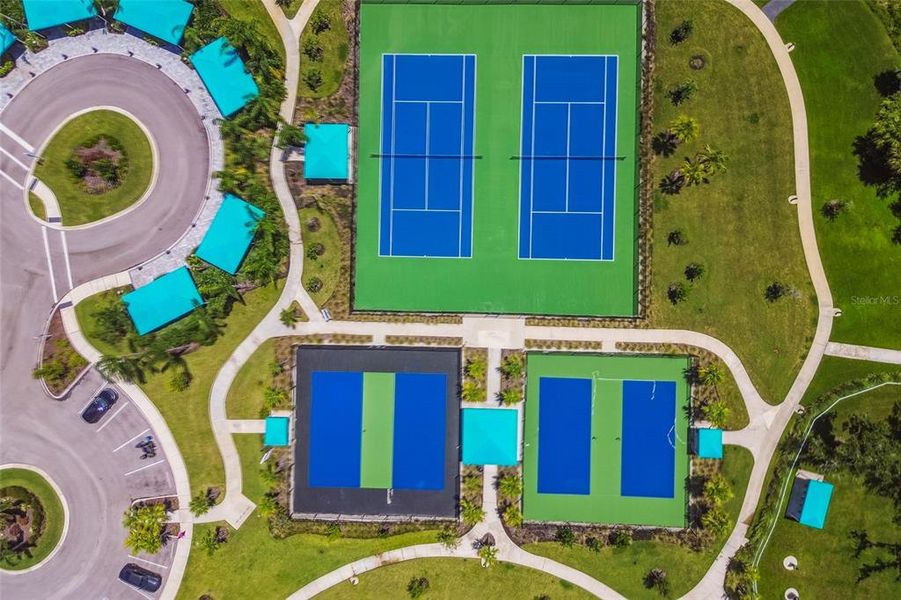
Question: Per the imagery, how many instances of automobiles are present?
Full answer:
I count 2 automobiles.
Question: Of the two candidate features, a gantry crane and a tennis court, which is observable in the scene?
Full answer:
The image shows a tennis court.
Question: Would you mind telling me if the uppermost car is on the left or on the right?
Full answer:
The uppermost car sits on the left side.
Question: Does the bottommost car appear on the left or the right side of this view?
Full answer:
The bottommost car is on the left side of the image.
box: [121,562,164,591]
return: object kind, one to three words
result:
car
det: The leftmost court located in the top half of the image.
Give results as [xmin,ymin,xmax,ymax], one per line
[355,0,500,314]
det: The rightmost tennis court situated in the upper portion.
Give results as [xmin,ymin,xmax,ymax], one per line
[495,0,641,318]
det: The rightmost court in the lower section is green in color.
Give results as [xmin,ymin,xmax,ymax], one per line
[519,349,692,532]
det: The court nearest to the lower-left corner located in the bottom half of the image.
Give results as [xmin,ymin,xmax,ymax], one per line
[289,343,464,521]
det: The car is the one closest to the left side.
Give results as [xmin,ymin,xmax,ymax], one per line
[83,388,121,423]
